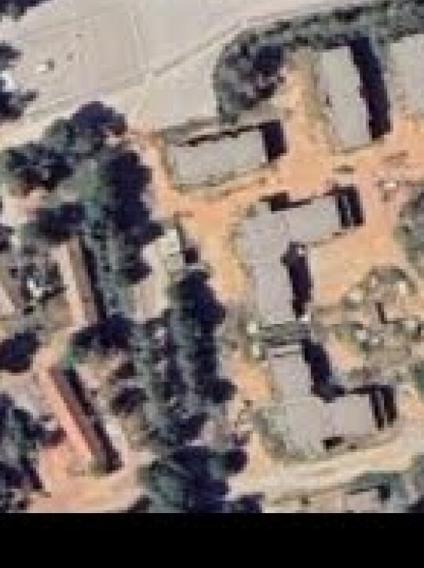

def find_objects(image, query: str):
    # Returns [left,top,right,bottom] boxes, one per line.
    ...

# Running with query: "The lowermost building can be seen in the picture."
[347,492,386,514]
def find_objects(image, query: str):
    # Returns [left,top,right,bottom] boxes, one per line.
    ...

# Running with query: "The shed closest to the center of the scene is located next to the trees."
[151,232,182,272]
